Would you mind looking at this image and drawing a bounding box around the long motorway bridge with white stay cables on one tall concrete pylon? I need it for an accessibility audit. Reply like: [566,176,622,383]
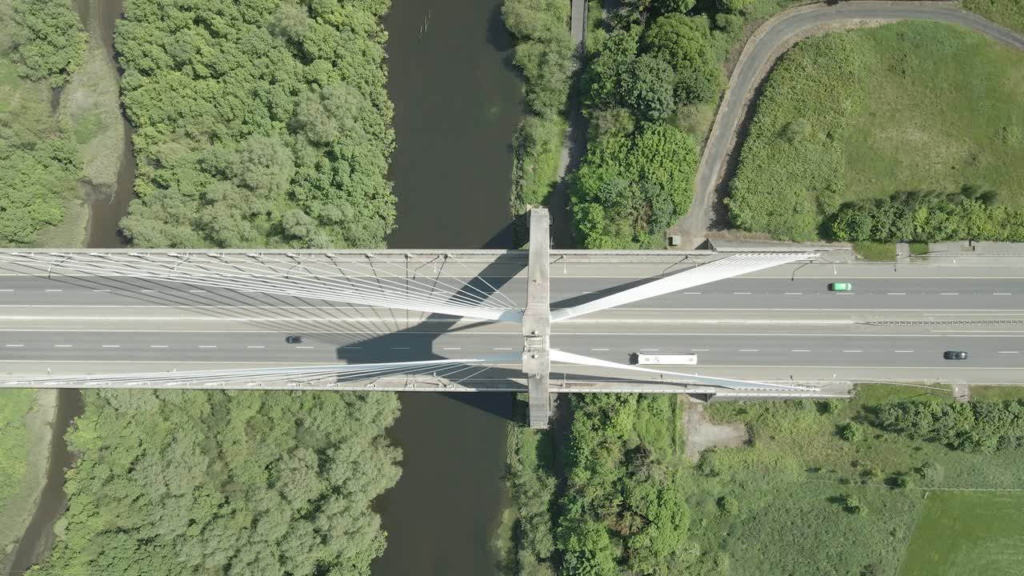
[0,206,861,430]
